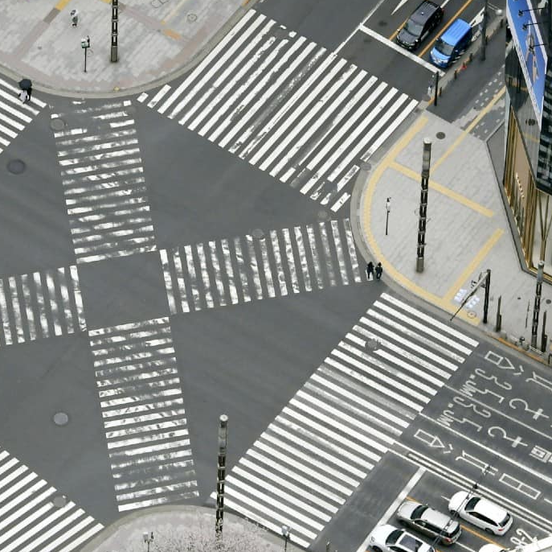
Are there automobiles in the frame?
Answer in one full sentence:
Yes, an automobile can be made out from above.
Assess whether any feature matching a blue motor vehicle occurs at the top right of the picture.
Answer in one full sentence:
Yes, a blue motor vehicle shows up at the top right of the picture.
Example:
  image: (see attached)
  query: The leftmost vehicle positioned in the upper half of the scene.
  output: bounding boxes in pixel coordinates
[394,0,446,50]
